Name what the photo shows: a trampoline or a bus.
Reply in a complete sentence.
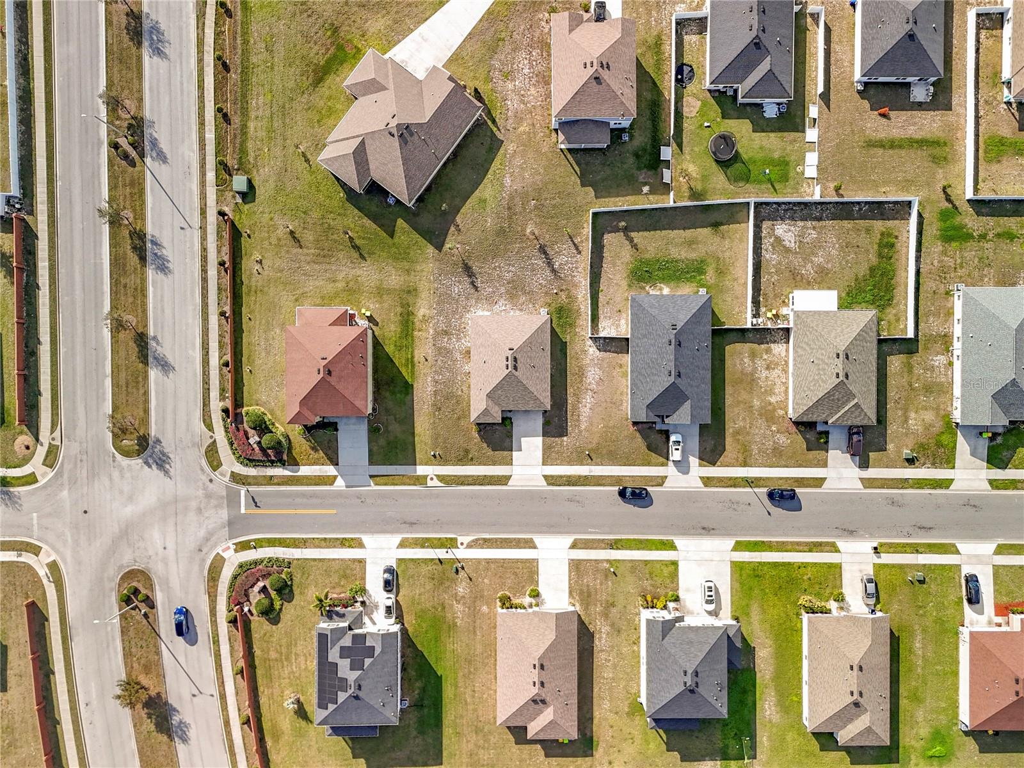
This aerial view contains a trampoline.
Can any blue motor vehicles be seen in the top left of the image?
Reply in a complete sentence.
No, there is no blue motor vehicle in the top left of the image.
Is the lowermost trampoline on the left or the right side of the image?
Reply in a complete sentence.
You can find the lowermost trampoline on the right side of the picture.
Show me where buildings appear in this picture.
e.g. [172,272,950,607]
[789,291,877,424]
[1002,0,1024,102]
[952,287,1024,425]
[642,609,742,732]
[470,315,551,423]
[961,615,1024,730]
[629,294,712,424]
[803,612,890,746]
[317,48,484,207]
[286,307,372,424]
[551,8,637,145]
[707,0,794,103]
[315,605,401,741]
[855,0,944,82]
[496,607,578,740]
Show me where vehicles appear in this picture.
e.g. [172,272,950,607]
[617,485,647,500]
[172,607,190,636]
[382,562,396,590]
[669,430,684,460]
[383,590,397,621]
[958,570,977,602]
[593,0,608,22]
[847,424,864,453]
[765,486,795,501]
[699,576,715,607]
[858,572,875,603]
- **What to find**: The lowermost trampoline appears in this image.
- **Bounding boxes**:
[707,126,739,159]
